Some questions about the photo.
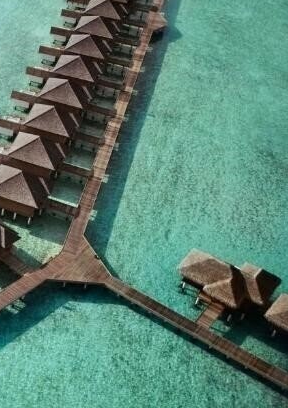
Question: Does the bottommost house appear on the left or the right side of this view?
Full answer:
The bottommost house sits on the right side.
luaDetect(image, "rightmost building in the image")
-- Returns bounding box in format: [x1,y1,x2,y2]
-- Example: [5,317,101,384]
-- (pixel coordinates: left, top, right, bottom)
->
[265,294,288,339]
